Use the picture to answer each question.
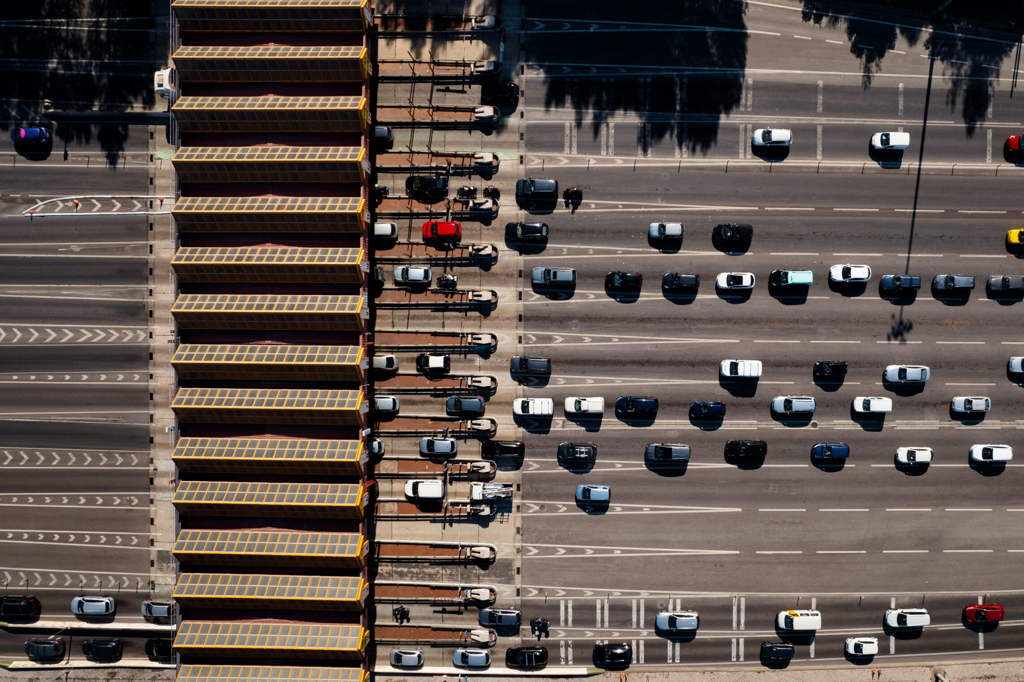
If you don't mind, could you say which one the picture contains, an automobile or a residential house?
automobile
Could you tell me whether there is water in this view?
No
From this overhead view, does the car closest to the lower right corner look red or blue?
red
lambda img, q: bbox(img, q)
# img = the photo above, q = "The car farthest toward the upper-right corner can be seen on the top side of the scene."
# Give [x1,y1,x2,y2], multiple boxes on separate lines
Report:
[1001,133,1024,153]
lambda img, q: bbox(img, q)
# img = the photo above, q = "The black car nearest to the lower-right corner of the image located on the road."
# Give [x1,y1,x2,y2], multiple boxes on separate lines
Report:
[760,640,794,661]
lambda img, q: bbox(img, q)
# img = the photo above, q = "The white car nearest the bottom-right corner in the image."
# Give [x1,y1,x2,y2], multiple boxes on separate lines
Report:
[884,607,930,630]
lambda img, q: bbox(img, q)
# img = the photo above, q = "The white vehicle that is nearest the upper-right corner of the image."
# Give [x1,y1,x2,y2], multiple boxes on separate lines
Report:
[870,129,913,151]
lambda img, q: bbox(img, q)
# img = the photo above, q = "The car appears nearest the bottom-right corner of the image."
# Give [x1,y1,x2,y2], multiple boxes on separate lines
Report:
[961,603,1004,624]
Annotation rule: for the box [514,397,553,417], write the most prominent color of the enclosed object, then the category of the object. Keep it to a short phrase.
white vehicle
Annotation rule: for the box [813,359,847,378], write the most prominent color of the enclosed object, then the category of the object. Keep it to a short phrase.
black car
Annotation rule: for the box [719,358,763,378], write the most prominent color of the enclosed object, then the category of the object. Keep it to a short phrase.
white vehicle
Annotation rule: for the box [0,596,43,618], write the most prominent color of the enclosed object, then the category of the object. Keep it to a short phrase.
black car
